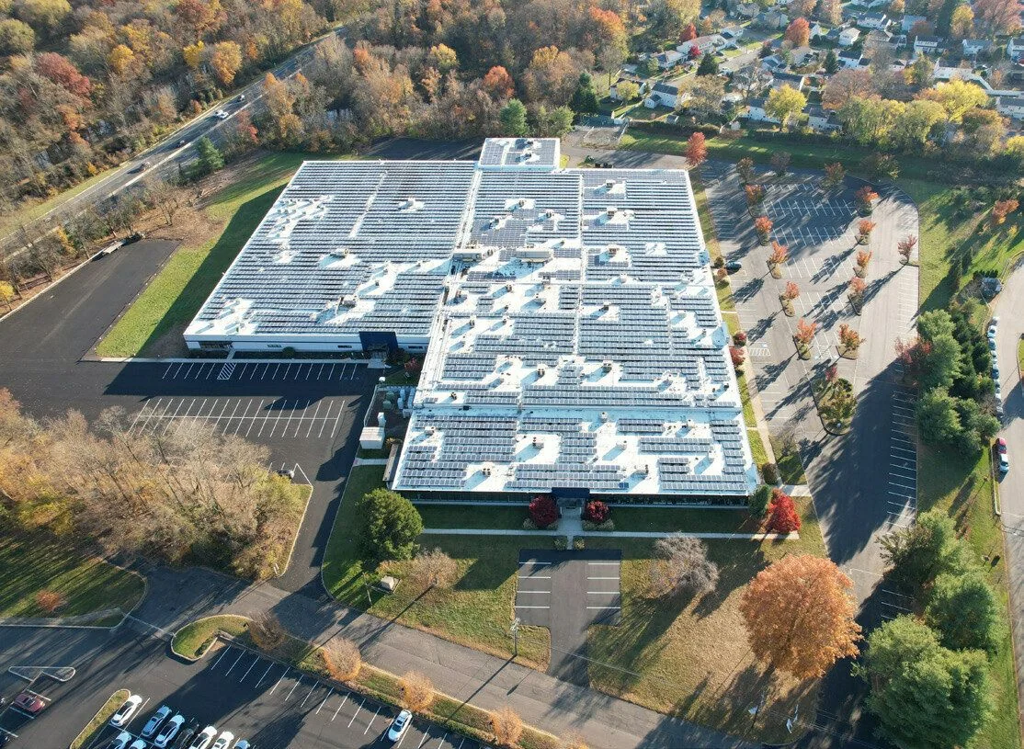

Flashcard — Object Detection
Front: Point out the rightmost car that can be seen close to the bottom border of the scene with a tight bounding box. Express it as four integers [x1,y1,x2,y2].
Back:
[385,709,412,741]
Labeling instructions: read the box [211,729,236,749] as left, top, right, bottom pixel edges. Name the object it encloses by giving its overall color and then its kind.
white car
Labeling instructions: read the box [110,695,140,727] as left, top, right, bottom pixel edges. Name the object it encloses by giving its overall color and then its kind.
white car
